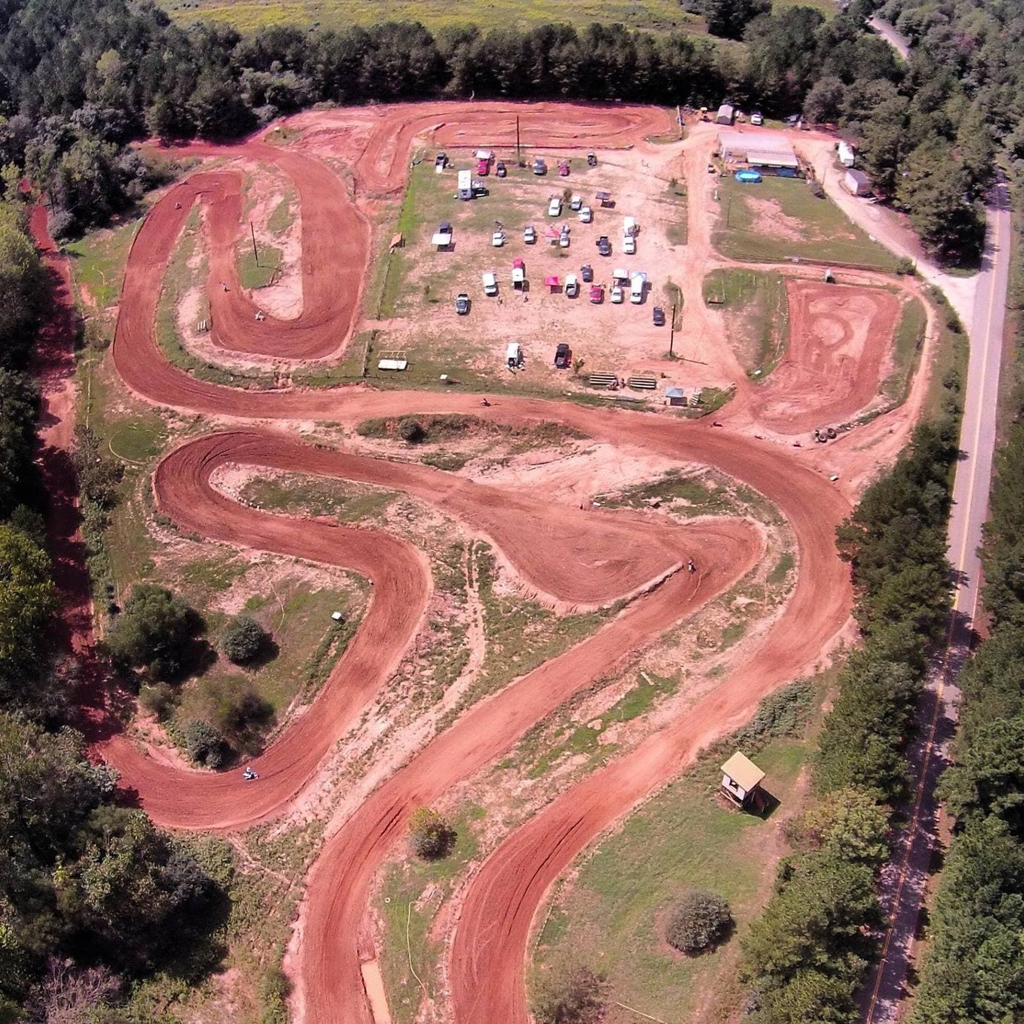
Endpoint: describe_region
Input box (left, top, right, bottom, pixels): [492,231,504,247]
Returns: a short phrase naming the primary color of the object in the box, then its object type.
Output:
white vehicle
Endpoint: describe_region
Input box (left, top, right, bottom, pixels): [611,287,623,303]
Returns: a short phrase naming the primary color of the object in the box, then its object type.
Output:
white vehicle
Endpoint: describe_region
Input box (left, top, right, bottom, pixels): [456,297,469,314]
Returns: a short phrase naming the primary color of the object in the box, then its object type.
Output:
gray vehicle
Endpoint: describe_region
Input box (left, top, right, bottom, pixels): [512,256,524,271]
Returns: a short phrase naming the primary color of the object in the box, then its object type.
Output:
red vehicle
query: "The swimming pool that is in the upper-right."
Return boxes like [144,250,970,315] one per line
[736,172,761,185]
